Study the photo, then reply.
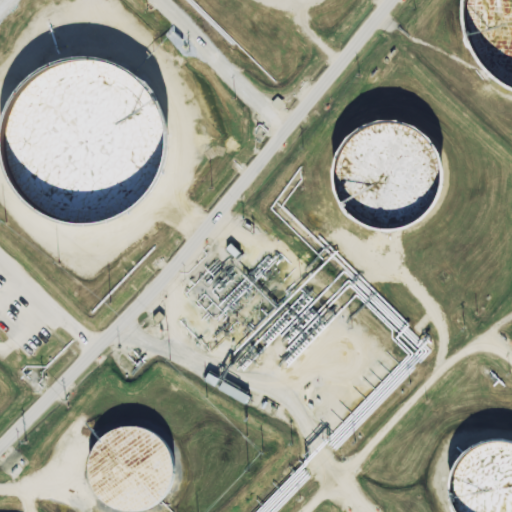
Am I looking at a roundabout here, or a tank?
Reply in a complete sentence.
The one in the frame is a tank.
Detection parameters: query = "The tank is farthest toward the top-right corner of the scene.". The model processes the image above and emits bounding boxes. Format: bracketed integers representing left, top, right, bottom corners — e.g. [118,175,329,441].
[460,0,512,90]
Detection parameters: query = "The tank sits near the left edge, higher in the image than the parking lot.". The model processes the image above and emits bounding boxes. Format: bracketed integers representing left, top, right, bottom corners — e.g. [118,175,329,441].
[0,24,168,225]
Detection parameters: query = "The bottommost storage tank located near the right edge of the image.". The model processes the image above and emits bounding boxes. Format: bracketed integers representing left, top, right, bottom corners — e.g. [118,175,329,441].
[447,434,512,512]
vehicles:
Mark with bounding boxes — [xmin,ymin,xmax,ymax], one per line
[212,212,223,224]
[13,300,22,310]
[32,336,42,346]
[196,36,206,46]
[19,296,28,307]
[40,326,50,337]
[10,304,19,315]
[0,273,7,284]
[27,340,36,351]
[0,322,8,332]
[79,333,88,344]
[6,308,17,320]
[37,331,46,342]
